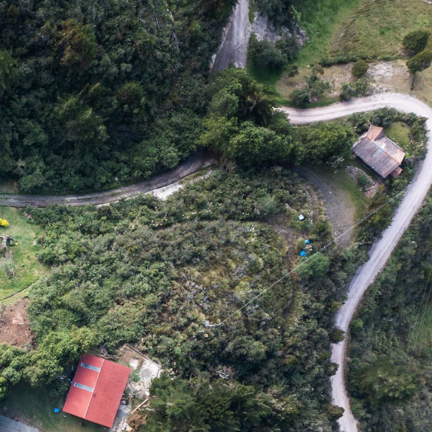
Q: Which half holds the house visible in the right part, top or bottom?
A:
top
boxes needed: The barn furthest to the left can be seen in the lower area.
[63,355,131,428]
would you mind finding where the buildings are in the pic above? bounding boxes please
[350,125,404,178]
[63,355,131,428]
